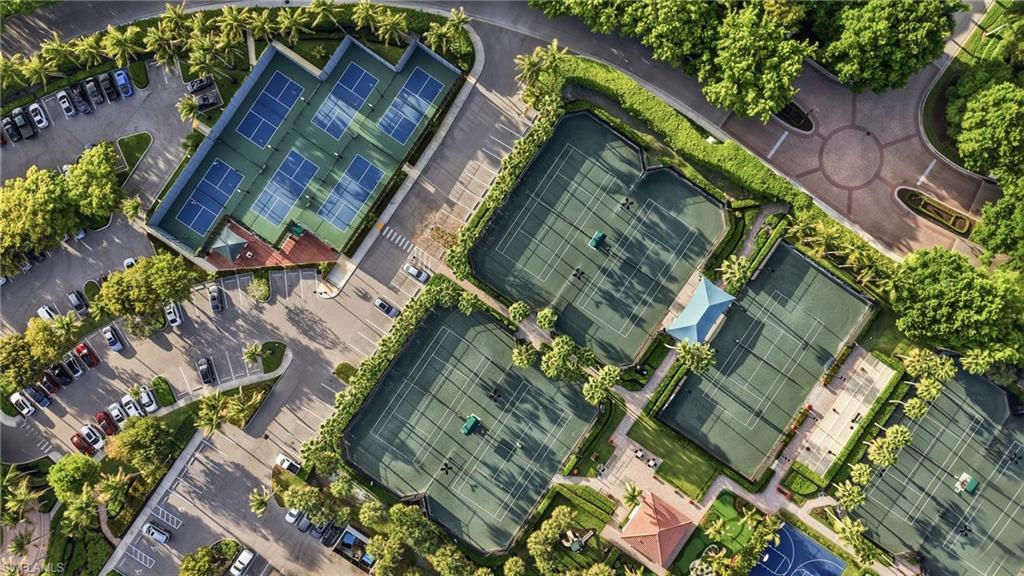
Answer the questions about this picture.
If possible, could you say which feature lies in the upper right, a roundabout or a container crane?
roundabout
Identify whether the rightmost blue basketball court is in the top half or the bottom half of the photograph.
bottom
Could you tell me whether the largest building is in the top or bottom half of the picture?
bottom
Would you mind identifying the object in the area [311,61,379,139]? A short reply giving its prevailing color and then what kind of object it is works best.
blue sports court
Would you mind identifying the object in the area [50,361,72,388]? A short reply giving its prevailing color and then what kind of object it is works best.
black car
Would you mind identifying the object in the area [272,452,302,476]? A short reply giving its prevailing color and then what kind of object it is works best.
white truck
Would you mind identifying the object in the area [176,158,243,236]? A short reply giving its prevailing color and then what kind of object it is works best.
blue sports court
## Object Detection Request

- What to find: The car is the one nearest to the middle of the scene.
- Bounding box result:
[403,263,429,281]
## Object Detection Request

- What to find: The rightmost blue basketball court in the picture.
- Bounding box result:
[734,510,848,576]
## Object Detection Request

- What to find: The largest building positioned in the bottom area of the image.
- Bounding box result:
[620,491,696,568]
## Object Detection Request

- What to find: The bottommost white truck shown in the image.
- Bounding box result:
[228,549,253,576]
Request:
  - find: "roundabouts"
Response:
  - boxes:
[800,91,910,215]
